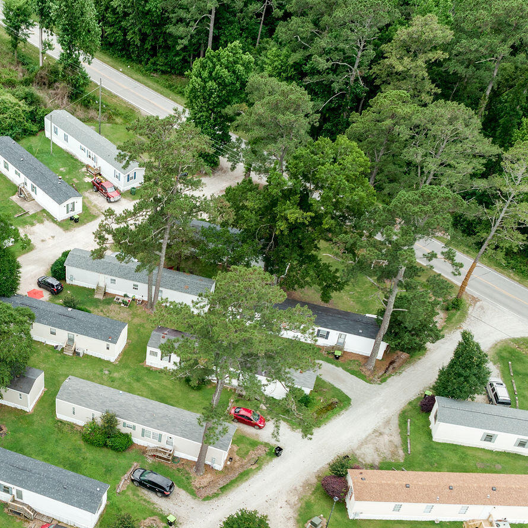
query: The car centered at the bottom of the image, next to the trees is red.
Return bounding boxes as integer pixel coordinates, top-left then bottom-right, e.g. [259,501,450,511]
[229,406,266,430]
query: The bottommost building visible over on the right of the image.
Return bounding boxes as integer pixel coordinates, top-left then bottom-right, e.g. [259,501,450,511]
[344,470,528,524]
